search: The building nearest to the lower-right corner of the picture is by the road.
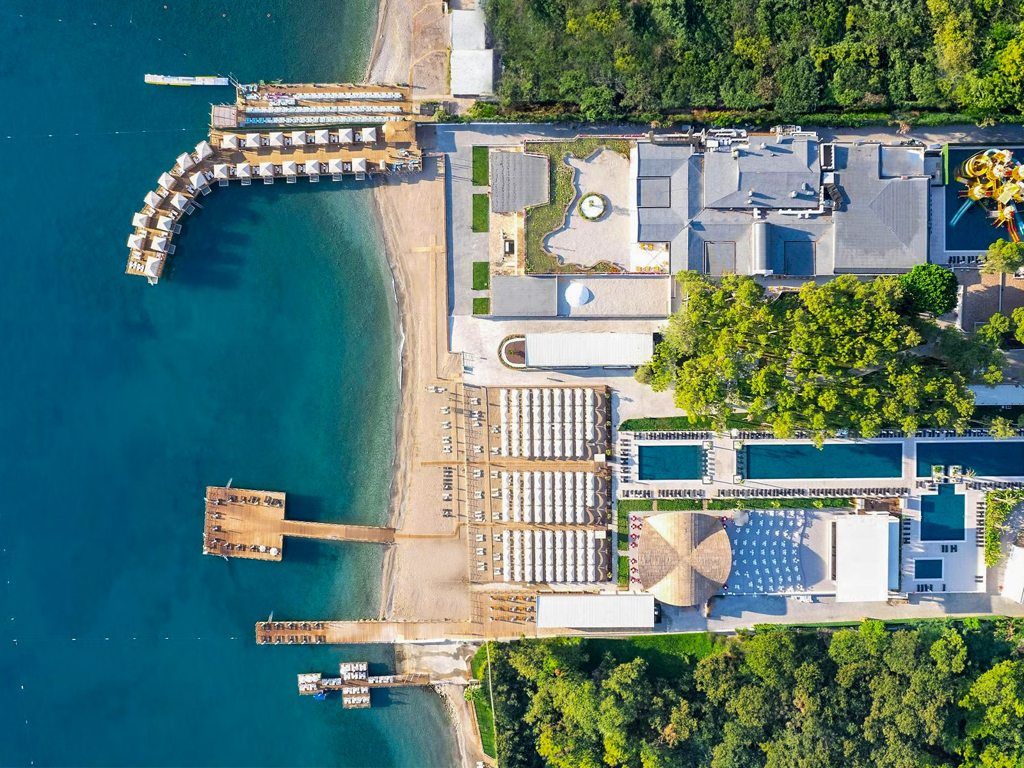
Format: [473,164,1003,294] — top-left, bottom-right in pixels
[988,541,1024,605]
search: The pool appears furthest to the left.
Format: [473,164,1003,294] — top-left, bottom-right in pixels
[637,444,710,481]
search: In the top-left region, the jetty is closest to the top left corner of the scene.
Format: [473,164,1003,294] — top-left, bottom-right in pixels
[145,74,229,87]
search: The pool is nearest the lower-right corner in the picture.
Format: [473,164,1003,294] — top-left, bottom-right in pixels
[913,558,944,580]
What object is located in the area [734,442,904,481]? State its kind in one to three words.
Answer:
swimming pool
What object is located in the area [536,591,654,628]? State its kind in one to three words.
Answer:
building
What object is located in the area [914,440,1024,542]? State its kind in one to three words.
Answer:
swimming pool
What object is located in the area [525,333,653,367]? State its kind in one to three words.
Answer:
building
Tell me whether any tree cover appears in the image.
Yes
